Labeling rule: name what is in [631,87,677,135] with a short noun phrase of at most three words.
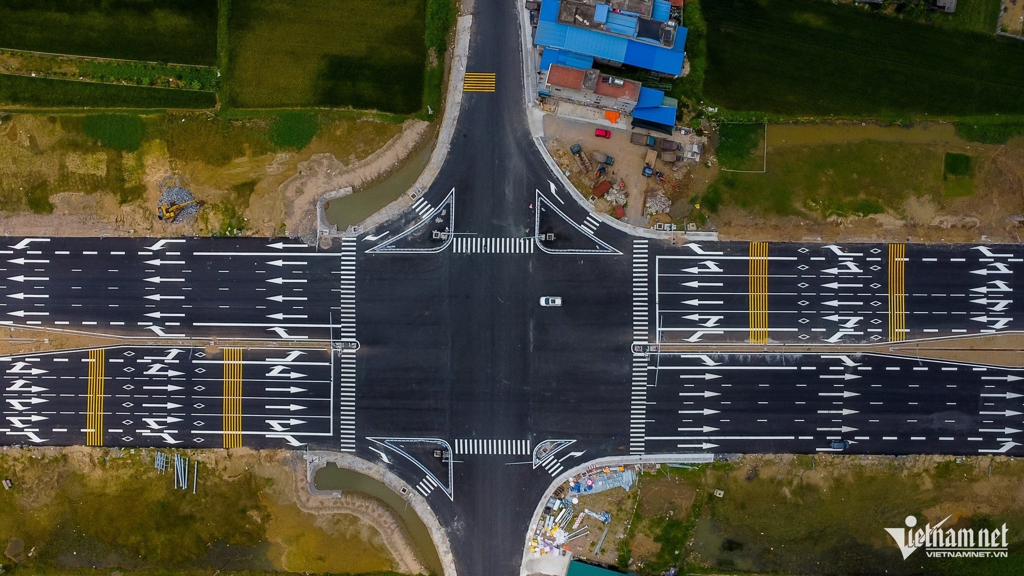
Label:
shed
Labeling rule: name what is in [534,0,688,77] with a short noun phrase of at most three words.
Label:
house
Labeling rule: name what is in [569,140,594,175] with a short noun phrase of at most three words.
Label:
truck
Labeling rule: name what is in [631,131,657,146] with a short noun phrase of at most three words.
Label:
vehicle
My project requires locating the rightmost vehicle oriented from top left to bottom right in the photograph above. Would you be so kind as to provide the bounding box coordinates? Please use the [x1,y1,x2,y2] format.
[653,168,681,190]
